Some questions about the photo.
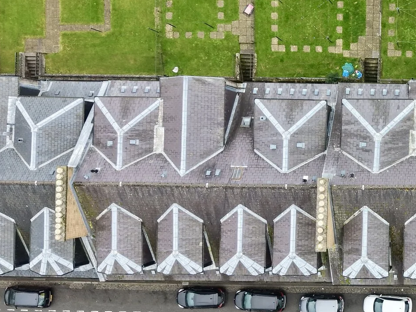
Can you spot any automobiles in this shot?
Yes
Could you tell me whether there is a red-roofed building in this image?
No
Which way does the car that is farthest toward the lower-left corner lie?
horizontally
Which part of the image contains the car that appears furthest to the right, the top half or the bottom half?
bottom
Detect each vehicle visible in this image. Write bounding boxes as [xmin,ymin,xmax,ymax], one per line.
[234,287,287,312]
[363,292,413,312]
[177,286,227,311]
[5,284,56,310]
[300,293,345,312]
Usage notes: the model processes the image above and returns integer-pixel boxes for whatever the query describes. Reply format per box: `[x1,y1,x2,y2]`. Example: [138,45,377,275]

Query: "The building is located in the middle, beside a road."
[75,76,340,288]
